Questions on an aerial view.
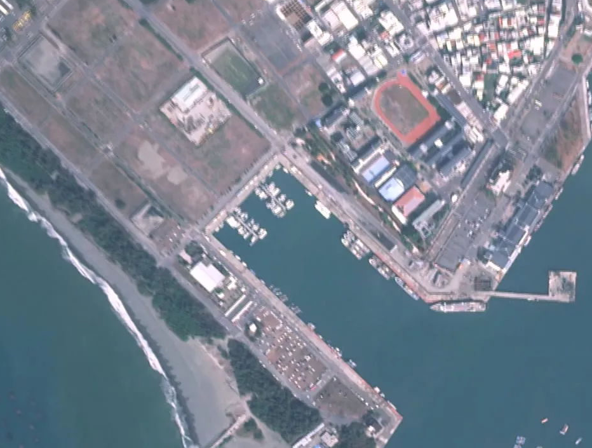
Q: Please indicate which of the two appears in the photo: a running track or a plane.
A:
running track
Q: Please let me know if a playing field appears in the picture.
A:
Yes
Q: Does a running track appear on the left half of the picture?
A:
No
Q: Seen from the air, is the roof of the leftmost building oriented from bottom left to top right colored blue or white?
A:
white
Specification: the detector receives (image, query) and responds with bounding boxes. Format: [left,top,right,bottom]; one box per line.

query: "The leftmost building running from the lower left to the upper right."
[176,77,208,102]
